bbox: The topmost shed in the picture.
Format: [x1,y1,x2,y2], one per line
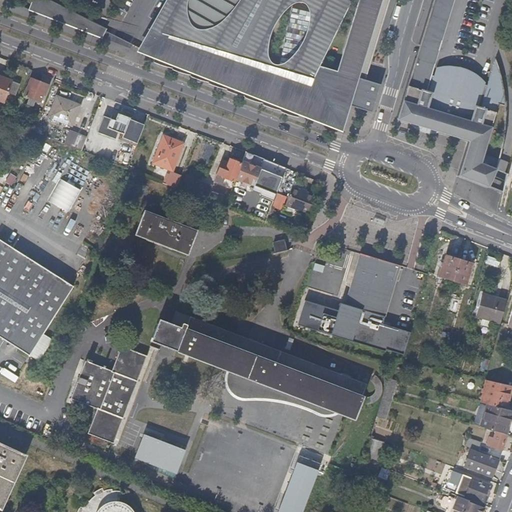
[29,0,108,38]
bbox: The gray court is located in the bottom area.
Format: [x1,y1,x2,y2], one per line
[187,424,296,512]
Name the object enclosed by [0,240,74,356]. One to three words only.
building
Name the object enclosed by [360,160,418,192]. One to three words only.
roundabout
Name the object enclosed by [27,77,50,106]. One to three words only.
house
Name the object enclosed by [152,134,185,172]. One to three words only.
house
